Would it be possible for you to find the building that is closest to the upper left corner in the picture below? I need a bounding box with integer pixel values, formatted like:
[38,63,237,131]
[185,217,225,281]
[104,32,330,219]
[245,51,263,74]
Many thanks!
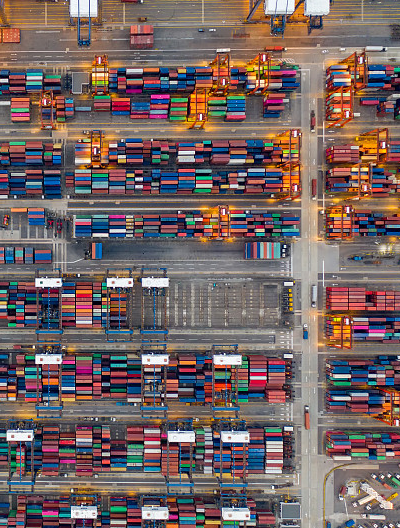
[73,71,88,97]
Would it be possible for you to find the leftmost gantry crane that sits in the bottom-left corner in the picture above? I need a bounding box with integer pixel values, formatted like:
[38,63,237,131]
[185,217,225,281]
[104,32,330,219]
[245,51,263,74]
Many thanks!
[5,420,37,494]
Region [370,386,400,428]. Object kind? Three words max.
container crane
